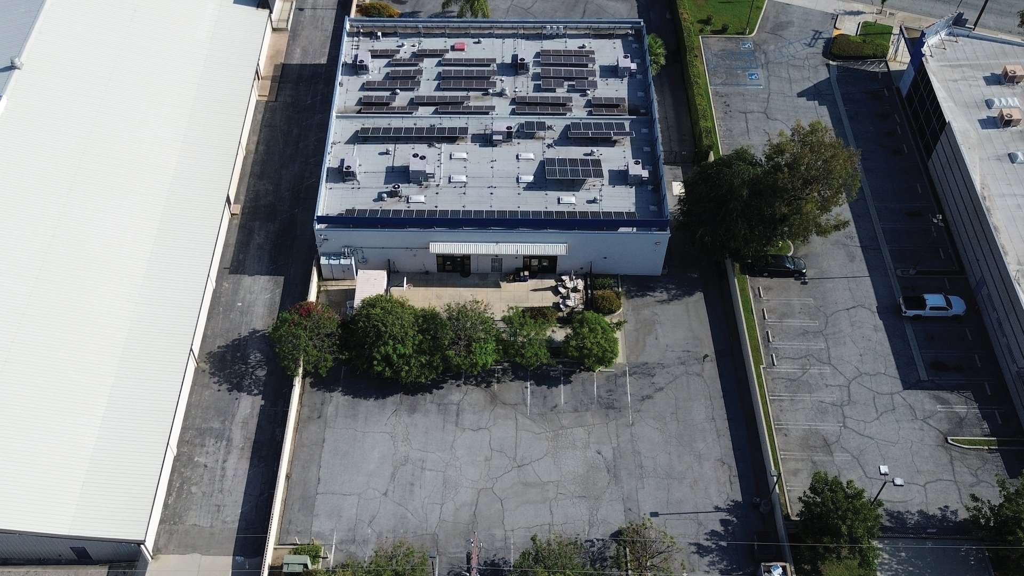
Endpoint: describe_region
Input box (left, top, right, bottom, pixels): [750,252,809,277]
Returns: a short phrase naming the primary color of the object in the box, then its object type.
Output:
black car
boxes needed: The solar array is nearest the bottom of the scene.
[345,202,637,228]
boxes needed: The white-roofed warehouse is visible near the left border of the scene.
[0,0,276,558]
